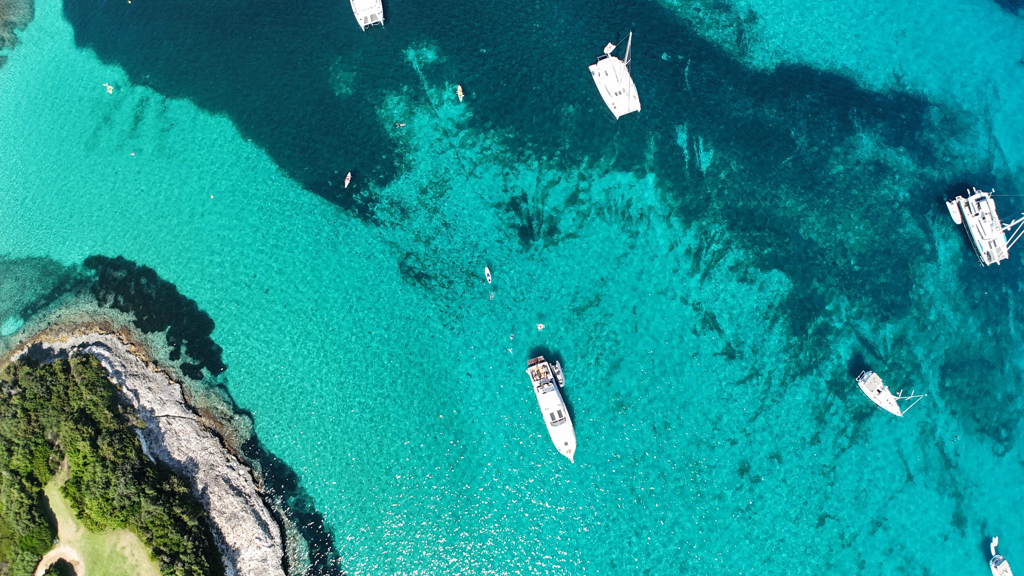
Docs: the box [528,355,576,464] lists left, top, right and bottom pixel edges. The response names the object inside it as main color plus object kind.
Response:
white boat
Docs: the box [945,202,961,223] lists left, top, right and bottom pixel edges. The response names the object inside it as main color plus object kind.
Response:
white boat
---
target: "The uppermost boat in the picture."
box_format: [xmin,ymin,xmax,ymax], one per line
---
[347,0,386,36]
